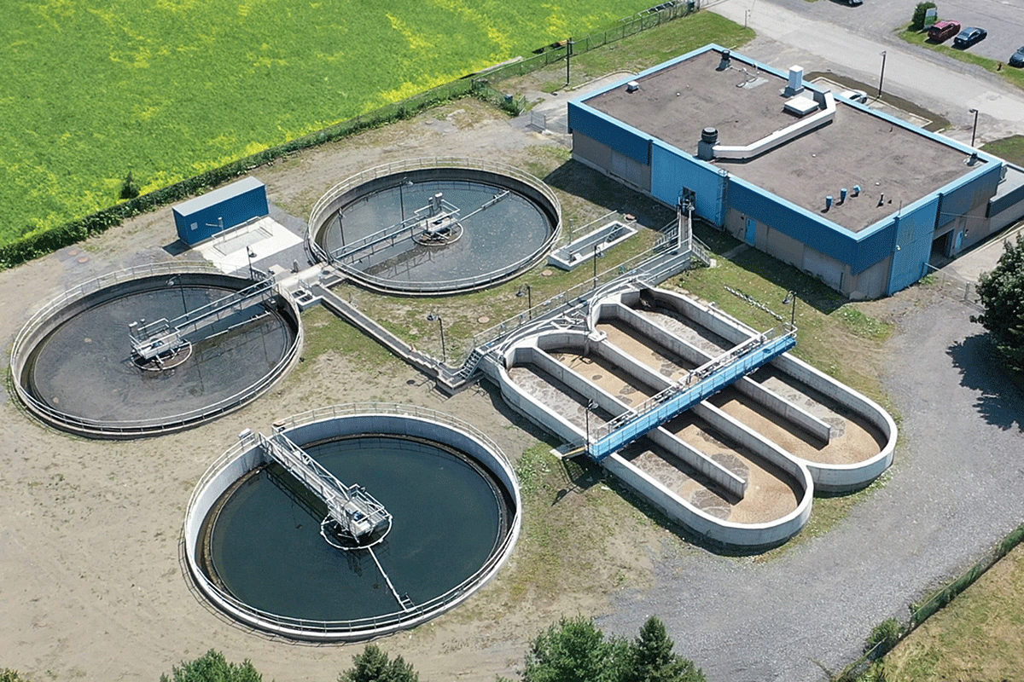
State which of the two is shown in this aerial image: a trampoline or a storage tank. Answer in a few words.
storage tank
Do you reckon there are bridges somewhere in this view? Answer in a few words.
Yes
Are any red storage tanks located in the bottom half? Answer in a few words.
No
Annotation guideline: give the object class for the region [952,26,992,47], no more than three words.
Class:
car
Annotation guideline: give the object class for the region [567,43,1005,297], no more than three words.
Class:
building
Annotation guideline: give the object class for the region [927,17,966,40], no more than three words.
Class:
car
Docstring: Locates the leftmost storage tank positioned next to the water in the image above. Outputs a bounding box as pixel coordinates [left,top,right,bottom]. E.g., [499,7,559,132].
[10,261,309,444]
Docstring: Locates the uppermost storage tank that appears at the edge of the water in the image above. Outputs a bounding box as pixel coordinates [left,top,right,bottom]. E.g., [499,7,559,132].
[307,157,566,302]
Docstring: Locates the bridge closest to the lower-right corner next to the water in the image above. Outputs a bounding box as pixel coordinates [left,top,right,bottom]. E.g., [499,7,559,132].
[582,325,802,461]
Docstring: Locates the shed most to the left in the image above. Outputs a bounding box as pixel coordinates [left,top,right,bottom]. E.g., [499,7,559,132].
[172,175,269,245]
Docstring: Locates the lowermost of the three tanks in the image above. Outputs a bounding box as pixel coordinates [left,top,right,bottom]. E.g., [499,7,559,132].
[183,402,529,645]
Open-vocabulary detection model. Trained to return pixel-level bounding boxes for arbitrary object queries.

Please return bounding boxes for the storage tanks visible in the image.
[10,261,309,444]
[307,157,566,302]
[183,402,529,645]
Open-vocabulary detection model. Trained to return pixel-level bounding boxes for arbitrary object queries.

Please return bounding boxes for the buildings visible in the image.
[567,43,1005,297]
[172,175,269,245]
